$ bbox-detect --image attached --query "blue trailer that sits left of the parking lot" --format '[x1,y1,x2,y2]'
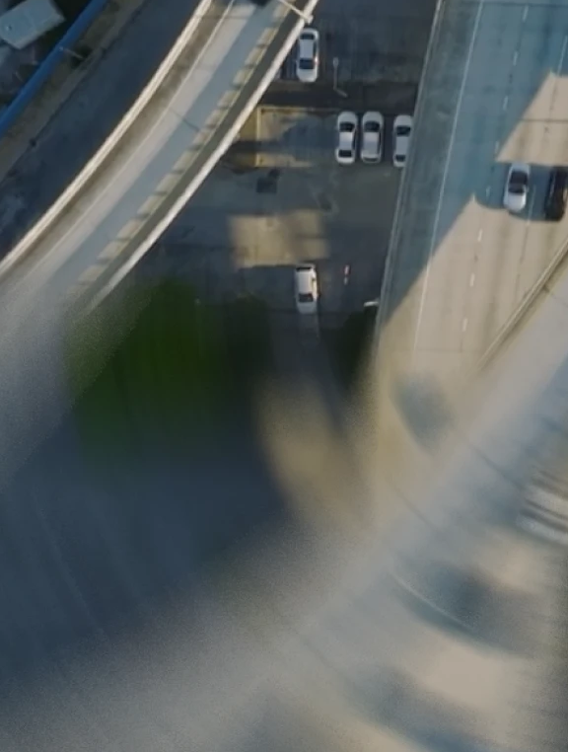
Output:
[0,0,70,50]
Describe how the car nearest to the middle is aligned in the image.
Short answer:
from top to bottom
